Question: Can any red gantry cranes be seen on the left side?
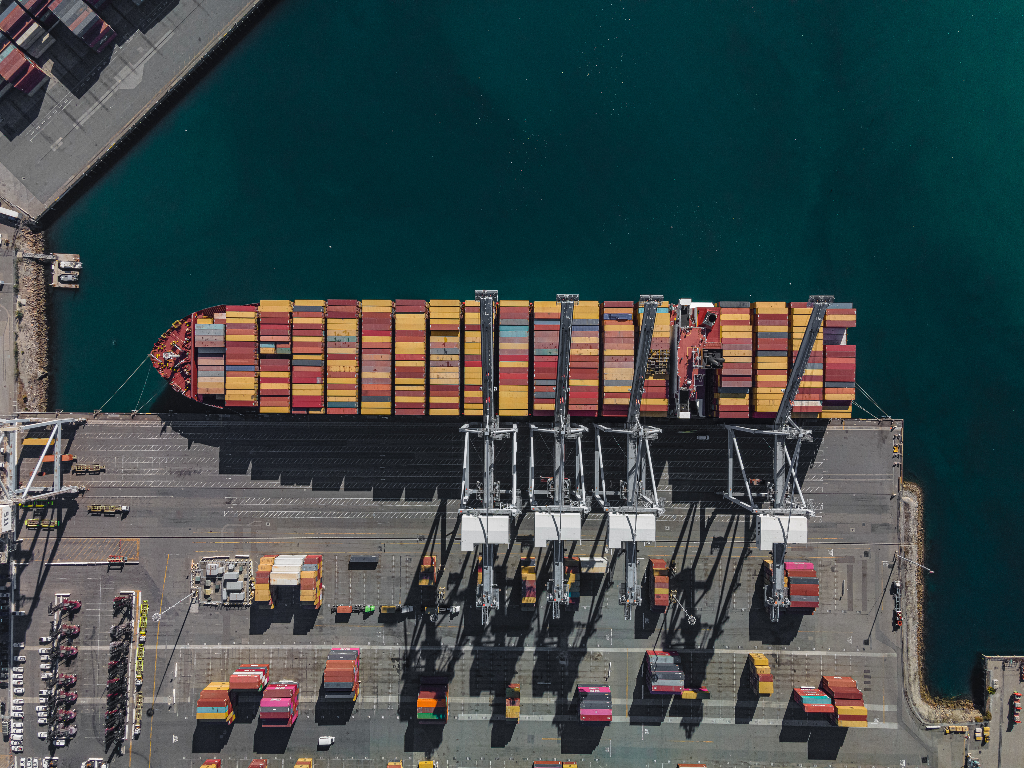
No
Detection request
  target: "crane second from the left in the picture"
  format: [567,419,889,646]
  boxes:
[452,288,526,622]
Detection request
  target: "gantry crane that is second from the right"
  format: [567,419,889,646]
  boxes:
[587,294,671,623]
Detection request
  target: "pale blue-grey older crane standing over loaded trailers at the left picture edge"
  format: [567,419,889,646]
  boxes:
[0,418,91,540]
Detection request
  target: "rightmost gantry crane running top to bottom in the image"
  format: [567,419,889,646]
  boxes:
[710,295,833,624]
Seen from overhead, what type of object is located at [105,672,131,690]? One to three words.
work vehicle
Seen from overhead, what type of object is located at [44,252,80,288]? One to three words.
pier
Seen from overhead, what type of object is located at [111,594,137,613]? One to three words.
work vehicle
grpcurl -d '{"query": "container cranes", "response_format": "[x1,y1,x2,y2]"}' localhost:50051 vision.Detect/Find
[710,295,833,624]
[587,294,671,623]
[520,292,597,622]
[452,288,526,622]
[0,418,91,540]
